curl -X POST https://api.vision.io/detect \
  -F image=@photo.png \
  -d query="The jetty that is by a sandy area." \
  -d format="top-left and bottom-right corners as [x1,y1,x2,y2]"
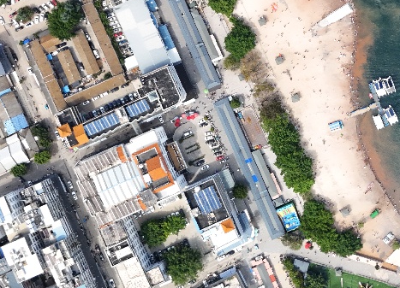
[349,83,389,126]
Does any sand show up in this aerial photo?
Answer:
Yes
